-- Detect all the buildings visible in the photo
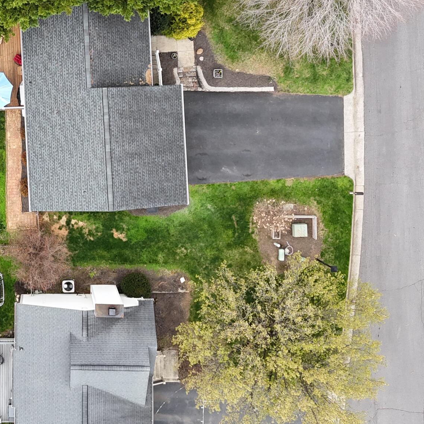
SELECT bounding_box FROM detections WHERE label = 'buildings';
[10,283,157,424]
[18,0,190,213]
